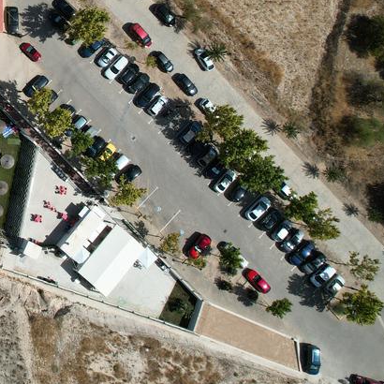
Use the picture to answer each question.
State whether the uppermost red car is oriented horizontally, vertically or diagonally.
diagonally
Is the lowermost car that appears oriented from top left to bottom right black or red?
red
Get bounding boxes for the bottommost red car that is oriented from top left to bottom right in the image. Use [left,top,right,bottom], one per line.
[241,266,270,294]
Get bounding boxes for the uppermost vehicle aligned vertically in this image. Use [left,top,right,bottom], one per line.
[6,6,19,33]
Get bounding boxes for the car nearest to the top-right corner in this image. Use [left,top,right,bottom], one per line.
[191,44,215,73]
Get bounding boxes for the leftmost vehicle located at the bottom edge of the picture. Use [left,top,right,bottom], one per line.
[306,342,323,373]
